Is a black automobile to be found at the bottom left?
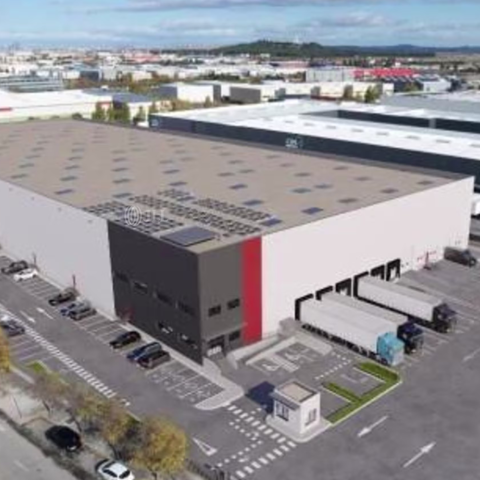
Yes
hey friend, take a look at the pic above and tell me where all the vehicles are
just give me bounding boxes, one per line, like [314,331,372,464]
[128,341,158,359]
[138,344,171,368]
[361,275,470,334]
[325,290,436,355]
[2,261,28,274]
[305,297,417,367]
[69,300,99,318]
[95,455,135,480]
[110,327,142,347]
[62,297,87,312]
[15,266,38,279]
[50,287,78,303]
[44,420,82,454]
[0,318,29,336]
[442,243,479,268]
